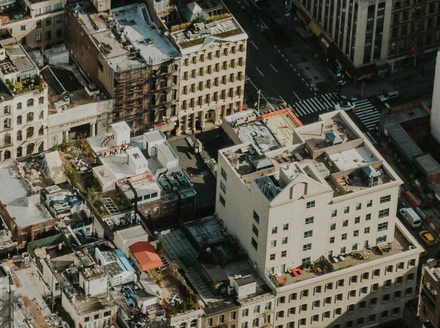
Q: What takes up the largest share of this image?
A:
buildings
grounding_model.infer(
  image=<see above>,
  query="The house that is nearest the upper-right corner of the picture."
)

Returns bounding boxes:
[388,0,440,71]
